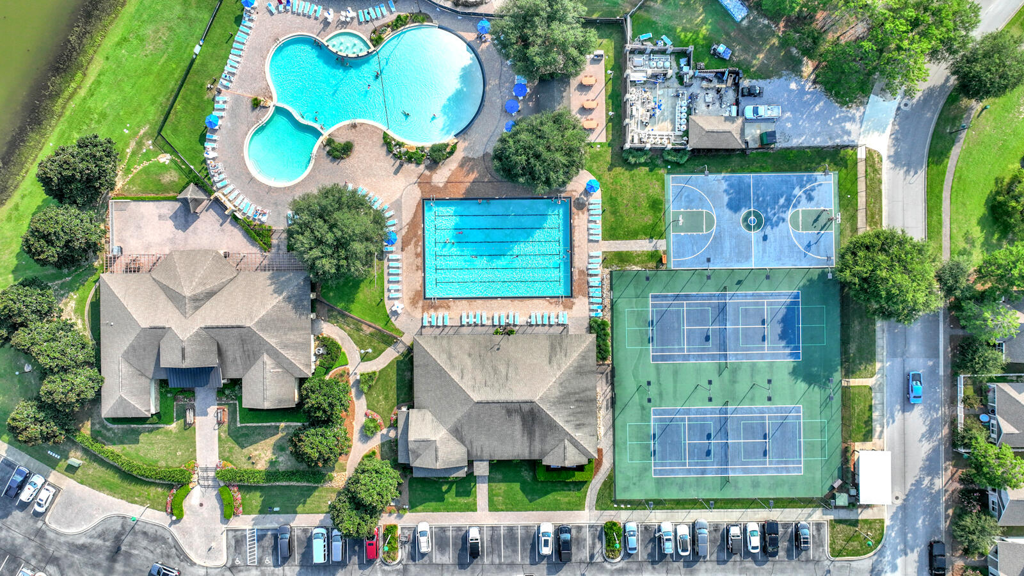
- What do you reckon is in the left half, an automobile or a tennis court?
automobile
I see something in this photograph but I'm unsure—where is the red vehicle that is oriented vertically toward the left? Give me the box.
[364,527,379,560]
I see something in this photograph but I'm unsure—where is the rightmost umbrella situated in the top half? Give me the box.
[585,179,599,193]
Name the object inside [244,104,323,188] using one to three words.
swimming pool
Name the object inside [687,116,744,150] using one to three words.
building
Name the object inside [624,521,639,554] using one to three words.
car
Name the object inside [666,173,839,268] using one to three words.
basketball court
